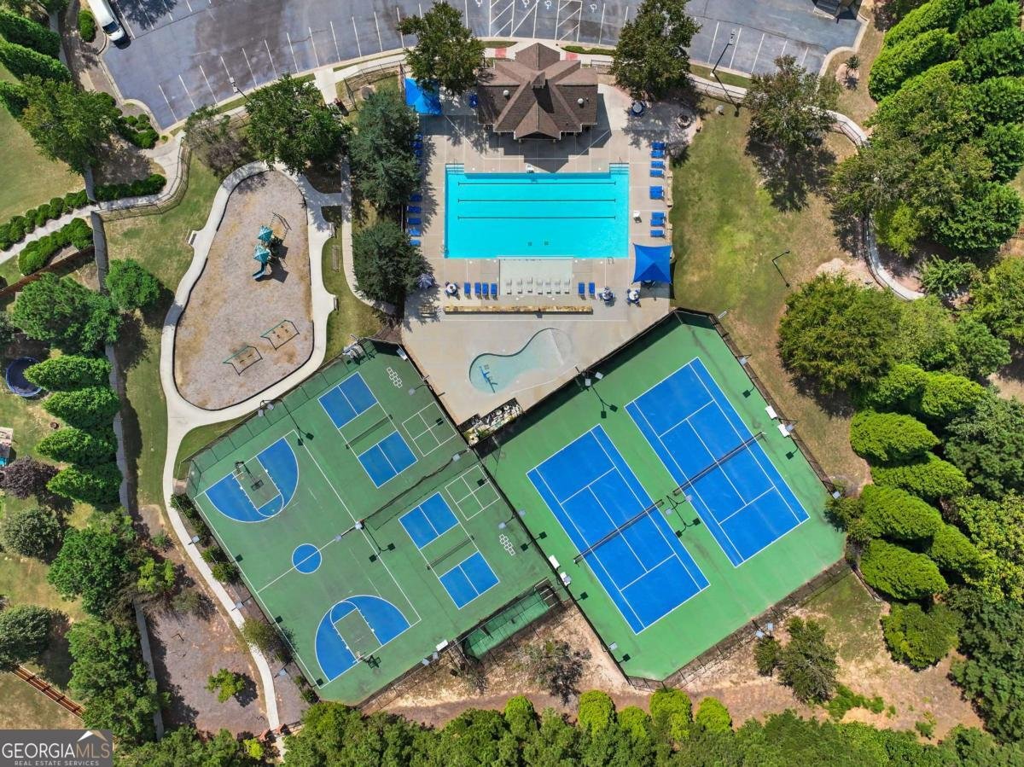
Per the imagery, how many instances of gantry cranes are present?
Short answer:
zero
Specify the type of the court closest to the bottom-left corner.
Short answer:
basketball court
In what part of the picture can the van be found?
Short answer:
top left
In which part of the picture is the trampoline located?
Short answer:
left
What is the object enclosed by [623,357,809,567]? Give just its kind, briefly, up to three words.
tennis court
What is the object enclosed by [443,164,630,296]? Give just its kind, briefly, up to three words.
swimming pool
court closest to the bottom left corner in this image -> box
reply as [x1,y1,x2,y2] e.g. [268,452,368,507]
[193,429,420,688]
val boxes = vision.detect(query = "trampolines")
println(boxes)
[0,357,39,396]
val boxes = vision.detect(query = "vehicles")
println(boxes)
[89,0,134,50]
